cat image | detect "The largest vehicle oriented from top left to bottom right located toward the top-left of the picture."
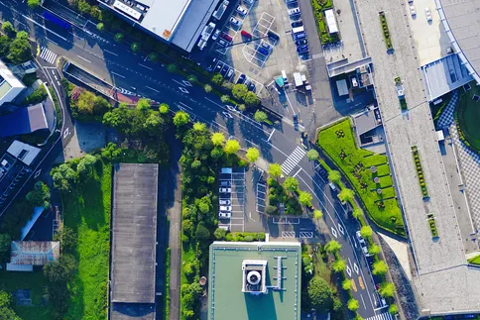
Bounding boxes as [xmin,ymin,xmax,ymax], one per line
[42,9,70,30]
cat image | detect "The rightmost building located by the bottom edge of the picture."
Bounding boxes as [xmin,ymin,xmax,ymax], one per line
[209,230,301,320]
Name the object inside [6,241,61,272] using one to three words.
house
